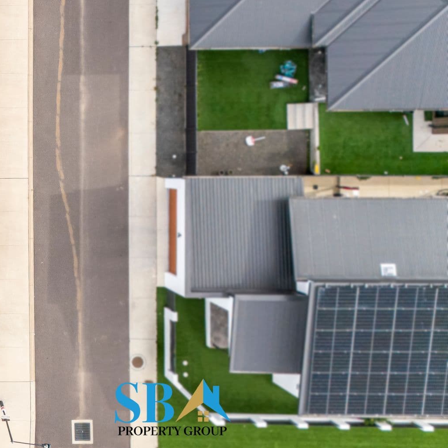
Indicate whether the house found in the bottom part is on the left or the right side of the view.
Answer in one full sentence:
You can find the house found in the bottom part on the right side of the picture.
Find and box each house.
[169,176,448,419]
[181,0,448,112]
